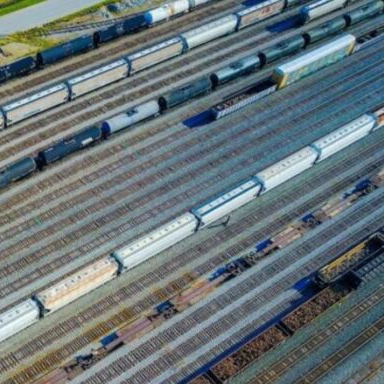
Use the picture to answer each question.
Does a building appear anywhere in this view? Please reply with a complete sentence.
No, this view has no building in it.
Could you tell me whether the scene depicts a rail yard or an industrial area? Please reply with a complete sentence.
It's a rail yard.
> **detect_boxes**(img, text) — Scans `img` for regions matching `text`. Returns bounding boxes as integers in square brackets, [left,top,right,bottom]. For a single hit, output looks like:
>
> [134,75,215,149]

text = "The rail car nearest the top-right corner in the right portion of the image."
[348,0,384,28]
